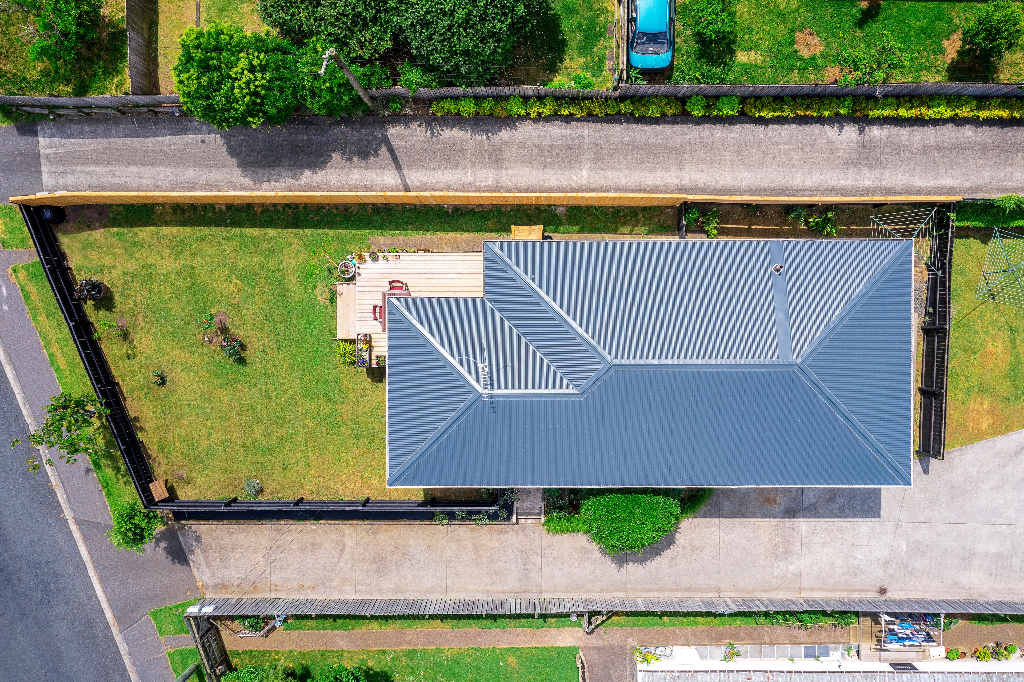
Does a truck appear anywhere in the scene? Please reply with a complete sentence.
No, I find no truck anywhere in the image.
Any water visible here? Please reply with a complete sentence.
No, no water is visible.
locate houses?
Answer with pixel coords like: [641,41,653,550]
[639,658,1024,682]
[384,240,912,489]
